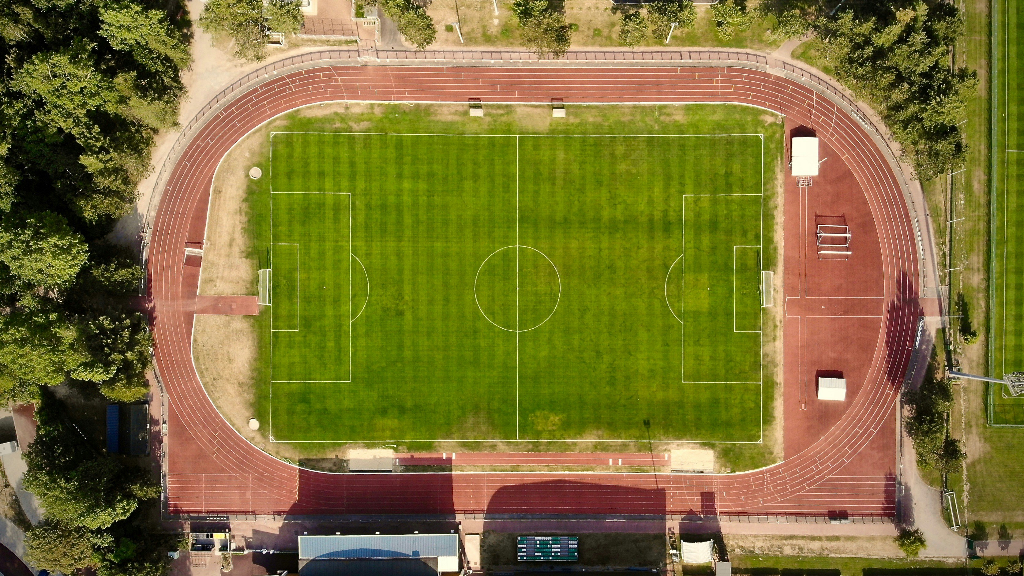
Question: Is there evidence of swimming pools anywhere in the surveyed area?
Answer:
No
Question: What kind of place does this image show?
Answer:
sports ground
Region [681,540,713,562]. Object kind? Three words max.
shed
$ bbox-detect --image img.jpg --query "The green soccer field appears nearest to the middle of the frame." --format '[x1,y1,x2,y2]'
[271,133,763,443]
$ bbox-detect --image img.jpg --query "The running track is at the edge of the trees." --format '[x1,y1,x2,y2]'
[146,66,920,518]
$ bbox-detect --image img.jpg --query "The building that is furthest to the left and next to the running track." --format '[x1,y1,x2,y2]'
[187,533,230,555]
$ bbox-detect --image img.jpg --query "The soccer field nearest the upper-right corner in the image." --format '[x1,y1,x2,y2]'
[991,0,1024,429]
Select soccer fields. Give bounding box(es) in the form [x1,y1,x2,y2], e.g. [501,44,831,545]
[991,0,1024,429]
[271,133,763,443]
